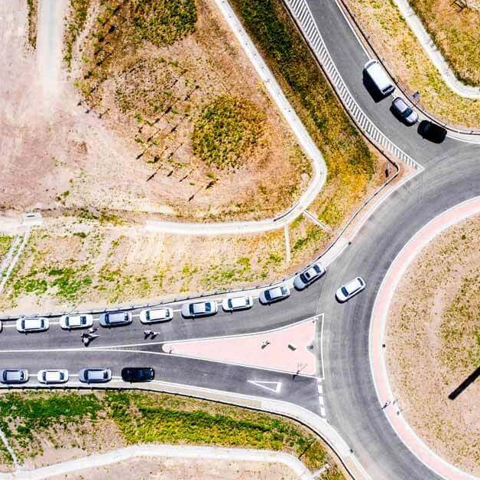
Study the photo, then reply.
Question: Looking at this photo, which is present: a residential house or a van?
van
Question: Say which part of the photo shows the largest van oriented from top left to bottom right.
top right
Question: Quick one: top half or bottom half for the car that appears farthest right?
top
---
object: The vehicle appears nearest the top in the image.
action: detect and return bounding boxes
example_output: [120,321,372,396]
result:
[362,57,396,98]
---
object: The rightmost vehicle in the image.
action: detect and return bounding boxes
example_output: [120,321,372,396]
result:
[416,119,447,143]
